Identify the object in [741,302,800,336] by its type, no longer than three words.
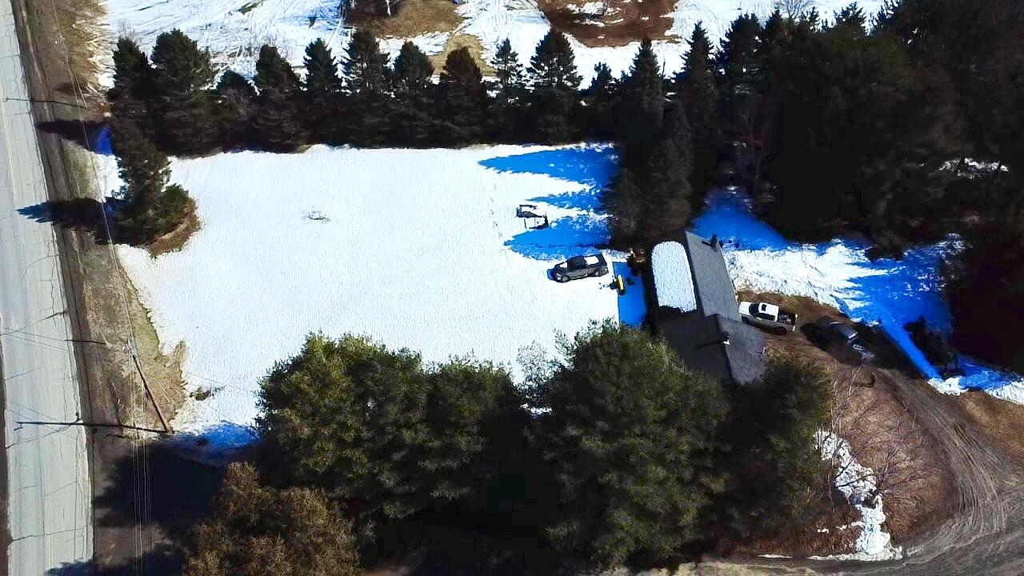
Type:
truck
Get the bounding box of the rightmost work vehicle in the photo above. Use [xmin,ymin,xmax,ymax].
[901,306,960,353]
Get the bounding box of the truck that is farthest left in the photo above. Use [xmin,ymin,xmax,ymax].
[551,254,613,279]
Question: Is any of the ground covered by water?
No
